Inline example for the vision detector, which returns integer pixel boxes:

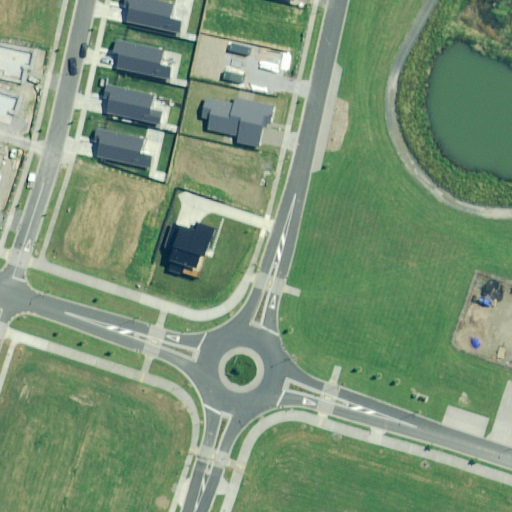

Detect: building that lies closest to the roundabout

[166,221,214,278]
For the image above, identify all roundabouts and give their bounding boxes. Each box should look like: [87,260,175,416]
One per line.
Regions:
[132,262,349,474]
